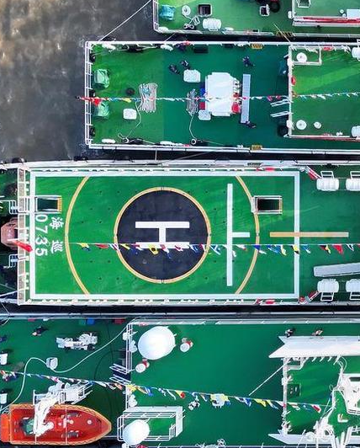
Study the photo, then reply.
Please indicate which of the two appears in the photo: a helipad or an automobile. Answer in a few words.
helipad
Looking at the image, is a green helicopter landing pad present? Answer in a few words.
Yes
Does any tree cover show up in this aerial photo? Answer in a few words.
No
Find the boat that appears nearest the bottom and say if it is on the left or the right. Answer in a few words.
left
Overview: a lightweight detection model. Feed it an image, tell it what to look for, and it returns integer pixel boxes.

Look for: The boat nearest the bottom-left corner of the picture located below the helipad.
[1,402,113,448]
